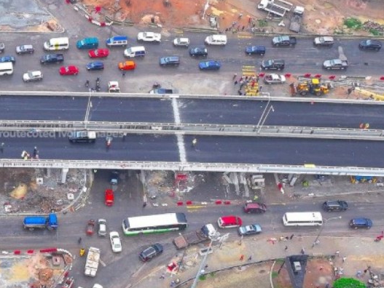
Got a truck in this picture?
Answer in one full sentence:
Yes, a truck can be made out from above.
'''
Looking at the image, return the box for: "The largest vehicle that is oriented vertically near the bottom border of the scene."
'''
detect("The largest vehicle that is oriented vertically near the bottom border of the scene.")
[83,243,103,284]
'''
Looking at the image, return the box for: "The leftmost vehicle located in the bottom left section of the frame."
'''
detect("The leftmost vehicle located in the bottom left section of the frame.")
[21,213,59,231]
